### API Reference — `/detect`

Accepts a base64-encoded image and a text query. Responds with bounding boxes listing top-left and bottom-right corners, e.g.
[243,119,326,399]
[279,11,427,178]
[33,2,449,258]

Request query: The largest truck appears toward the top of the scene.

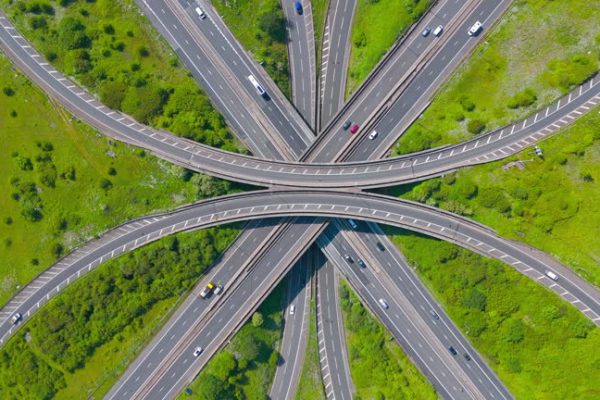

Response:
[247,73,268,97]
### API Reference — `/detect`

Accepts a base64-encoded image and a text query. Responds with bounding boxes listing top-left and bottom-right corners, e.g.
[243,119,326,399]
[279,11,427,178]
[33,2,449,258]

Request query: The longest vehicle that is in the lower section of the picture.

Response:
[197,281,214,298]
